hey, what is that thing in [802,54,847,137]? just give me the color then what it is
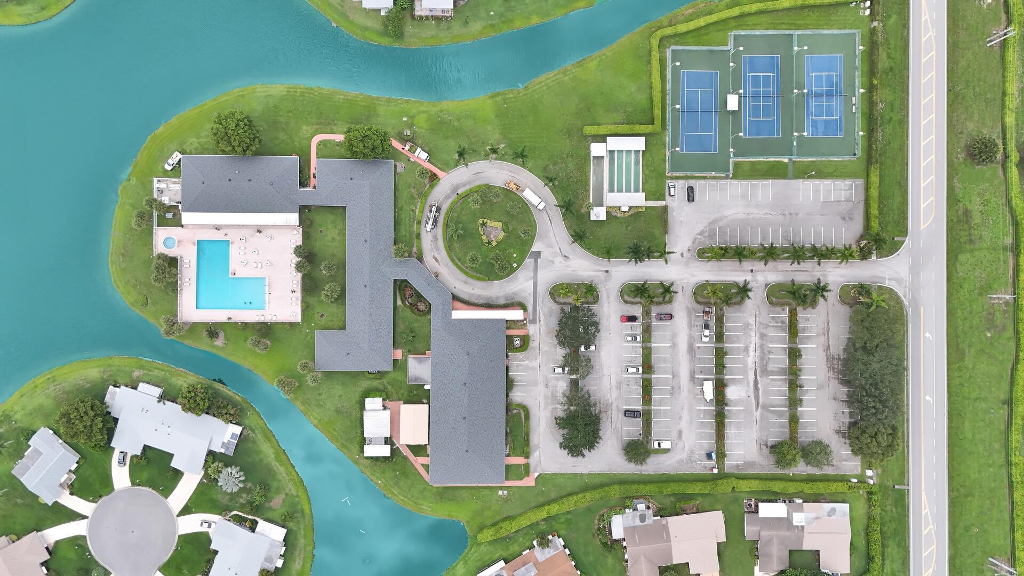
blue tennis court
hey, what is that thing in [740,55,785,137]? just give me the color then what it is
blue tennis court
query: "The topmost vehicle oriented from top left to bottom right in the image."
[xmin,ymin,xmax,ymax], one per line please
[405,142,429,161]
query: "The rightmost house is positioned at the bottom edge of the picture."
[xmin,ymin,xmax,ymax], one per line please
[743,497,851,574]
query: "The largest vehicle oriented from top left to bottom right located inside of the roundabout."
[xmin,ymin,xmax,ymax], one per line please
[522,189,546,210]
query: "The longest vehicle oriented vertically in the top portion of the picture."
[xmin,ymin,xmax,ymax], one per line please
[425,202,440,232]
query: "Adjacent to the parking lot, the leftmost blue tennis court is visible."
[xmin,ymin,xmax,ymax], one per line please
[677,70,722,153]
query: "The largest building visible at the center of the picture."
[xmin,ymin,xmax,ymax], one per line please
[291,159,523,485]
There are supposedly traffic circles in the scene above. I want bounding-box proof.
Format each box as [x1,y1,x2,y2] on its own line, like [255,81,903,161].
[423,166,558,300]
